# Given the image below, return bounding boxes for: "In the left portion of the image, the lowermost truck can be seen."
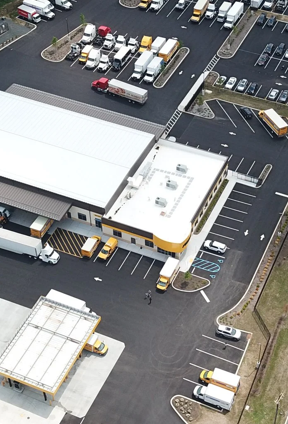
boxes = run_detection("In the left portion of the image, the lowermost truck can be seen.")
[85,333,109,355]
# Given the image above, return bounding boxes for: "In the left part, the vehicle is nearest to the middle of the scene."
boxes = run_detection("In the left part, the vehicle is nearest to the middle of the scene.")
[99,237,119,262]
